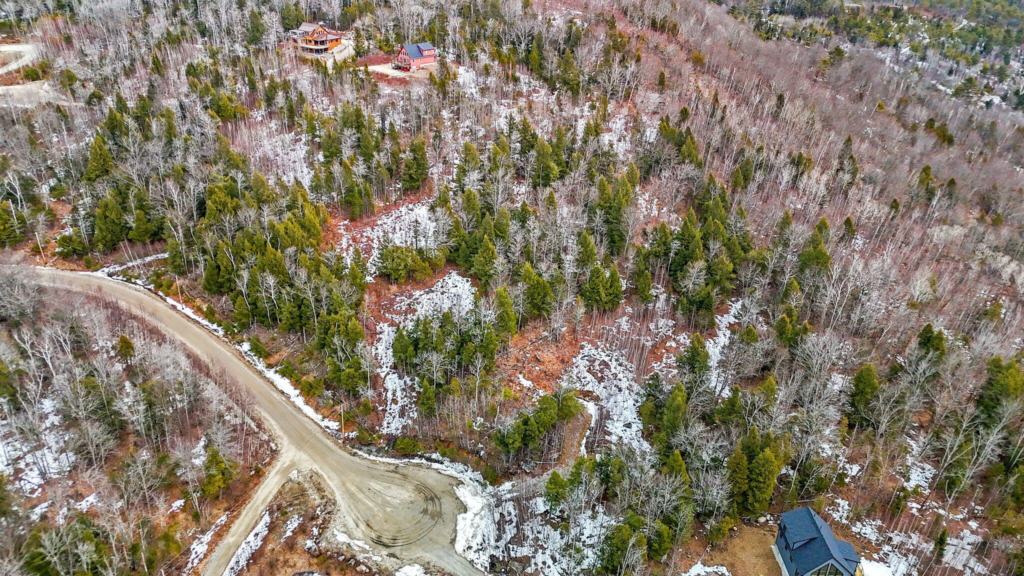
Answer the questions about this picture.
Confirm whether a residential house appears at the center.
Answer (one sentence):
No, there is no residential house at the center.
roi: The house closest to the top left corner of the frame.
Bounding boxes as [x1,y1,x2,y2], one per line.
[287,22,342,52]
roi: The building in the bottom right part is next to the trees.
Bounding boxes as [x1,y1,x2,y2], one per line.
[774,503,864,576]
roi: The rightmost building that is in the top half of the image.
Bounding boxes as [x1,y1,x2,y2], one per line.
[393,40,434,70]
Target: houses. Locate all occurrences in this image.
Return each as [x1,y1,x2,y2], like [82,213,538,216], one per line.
[287,22,342,52]
[774,503,864,576]
[393,40,434,70]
